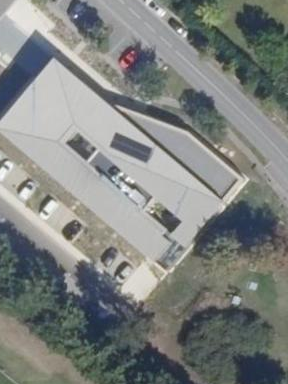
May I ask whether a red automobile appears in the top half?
Yes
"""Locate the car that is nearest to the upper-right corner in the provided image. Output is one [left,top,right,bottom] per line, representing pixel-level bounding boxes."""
[168,16,188,38]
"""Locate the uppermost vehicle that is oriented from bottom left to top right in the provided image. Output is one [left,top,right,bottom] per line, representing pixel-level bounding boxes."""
[66,0,86,22]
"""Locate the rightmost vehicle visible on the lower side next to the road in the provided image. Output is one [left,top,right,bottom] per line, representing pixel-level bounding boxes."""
[114,258,132,279]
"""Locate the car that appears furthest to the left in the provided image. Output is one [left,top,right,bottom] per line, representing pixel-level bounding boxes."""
[0,159,13,180]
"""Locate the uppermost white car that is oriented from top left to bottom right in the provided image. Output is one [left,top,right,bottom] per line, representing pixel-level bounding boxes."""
[144,0,164,16]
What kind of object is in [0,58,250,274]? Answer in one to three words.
building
